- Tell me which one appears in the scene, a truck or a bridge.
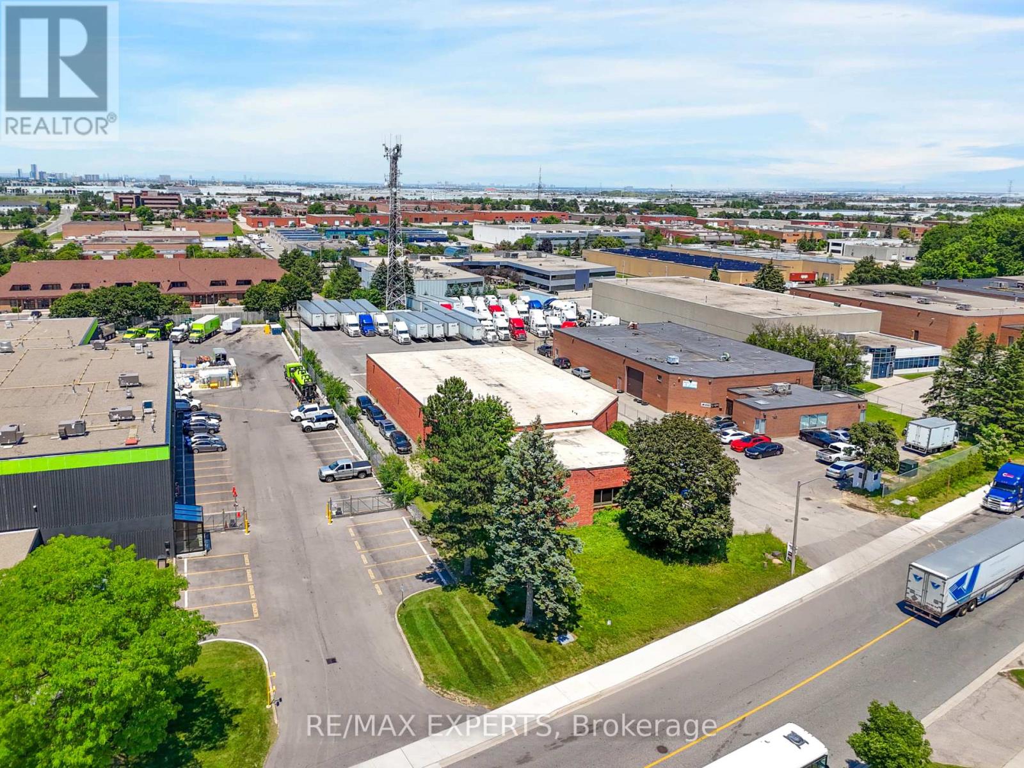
truck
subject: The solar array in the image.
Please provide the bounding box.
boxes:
[600,248,755,268]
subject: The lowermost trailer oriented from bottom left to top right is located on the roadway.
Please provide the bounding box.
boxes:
[906,515,1024,627]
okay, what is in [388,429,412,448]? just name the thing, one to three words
car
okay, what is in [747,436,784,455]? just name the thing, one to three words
car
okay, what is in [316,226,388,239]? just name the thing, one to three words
building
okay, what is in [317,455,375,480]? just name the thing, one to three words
truck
